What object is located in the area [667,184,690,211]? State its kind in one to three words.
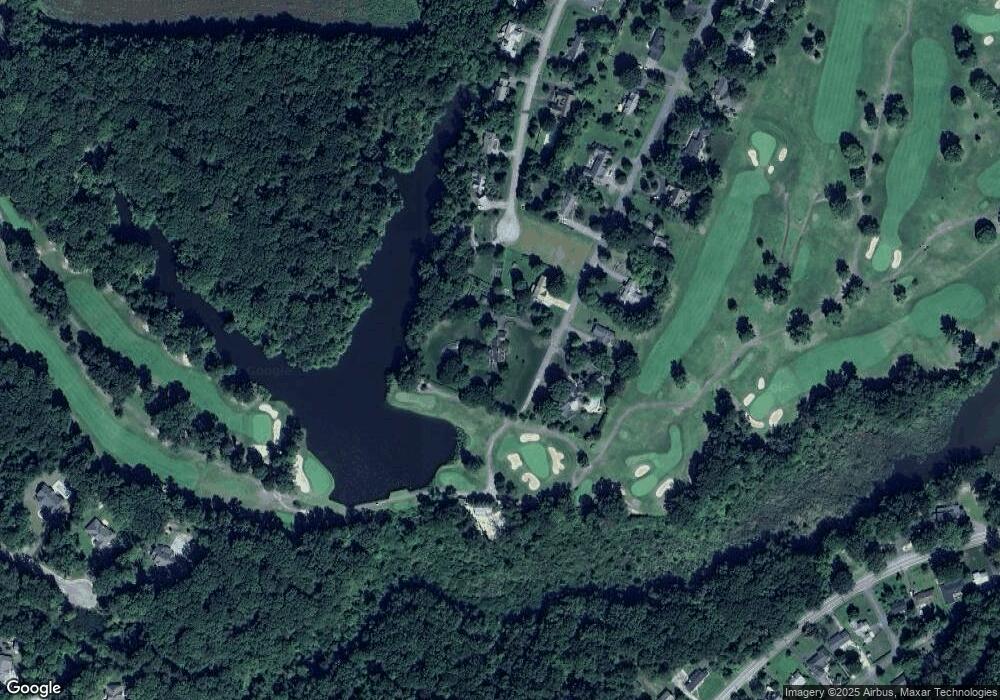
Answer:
house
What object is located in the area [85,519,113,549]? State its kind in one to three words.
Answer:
house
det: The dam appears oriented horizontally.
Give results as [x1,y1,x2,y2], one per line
[353,487,435,519]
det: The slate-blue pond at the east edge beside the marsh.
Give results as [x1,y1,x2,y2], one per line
[893,370,1000,478]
